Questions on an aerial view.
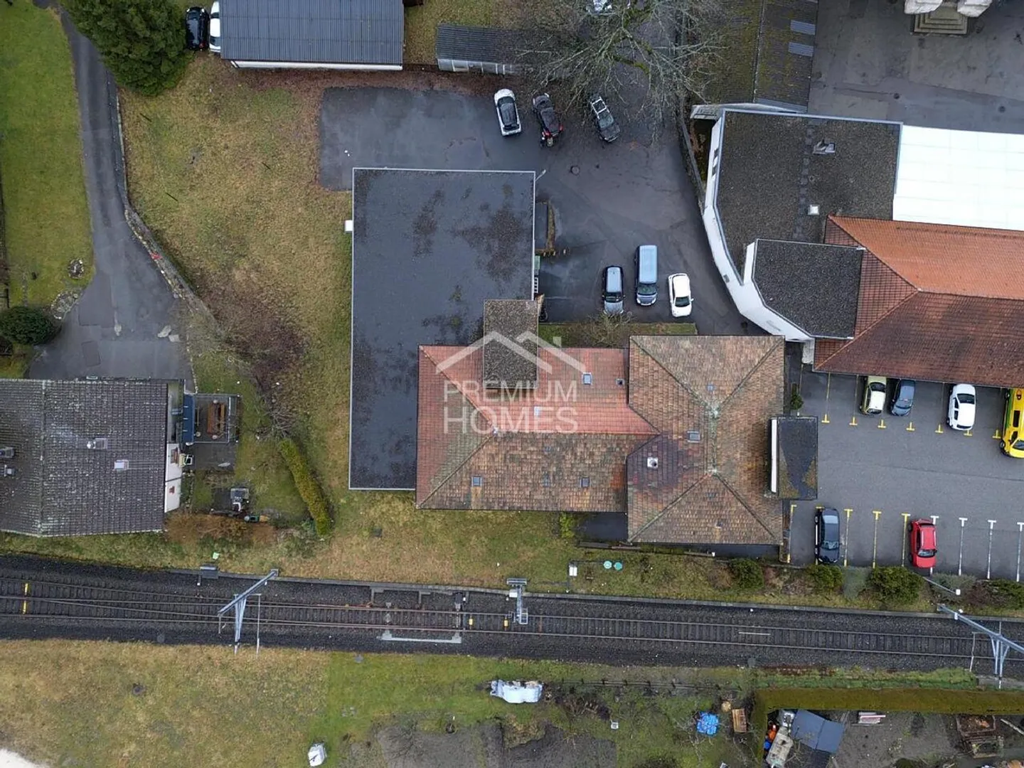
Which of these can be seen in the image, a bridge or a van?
van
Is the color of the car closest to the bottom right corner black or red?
red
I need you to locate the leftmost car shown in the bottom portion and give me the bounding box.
[813,506,844,562]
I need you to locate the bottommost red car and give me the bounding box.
[907,518,939,567]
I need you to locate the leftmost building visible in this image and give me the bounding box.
[0,378,185,537]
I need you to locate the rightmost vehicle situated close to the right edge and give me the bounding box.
[996,388,1024,457]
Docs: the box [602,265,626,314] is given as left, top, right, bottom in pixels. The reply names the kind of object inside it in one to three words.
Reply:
car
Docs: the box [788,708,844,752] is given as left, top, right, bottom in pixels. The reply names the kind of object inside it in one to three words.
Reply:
shed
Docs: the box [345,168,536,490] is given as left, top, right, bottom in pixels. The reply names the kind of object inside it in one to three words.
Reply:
building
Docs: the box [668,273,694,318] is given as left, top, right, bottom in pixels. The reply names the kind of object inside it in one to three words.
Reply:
car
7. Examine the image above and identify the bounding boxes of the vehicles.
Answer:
[813,506,844,562]
[184,7,209,53]
[859,376,889,416]
[632,244,660,306]
[996,388,1024,457]
[547,138,552,154]
[204,3,219,55]
[888,379,918,418]
[602,265,626,314]
[907,518,939,567]
[533,93,561,141]
[494,89,521,138]
[944,384,978,432]
[668,273,694,318]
